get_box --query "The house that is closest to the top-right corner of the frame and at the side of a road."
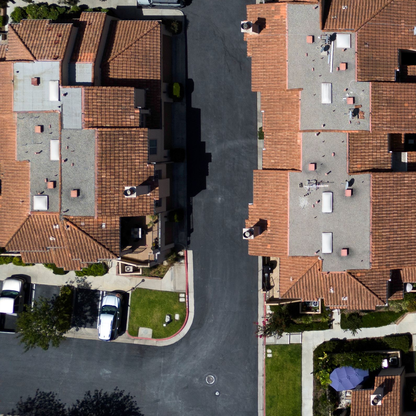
[241,0,416,314]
